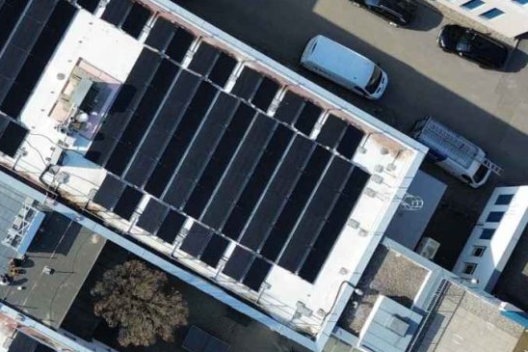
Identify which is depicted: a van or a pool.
van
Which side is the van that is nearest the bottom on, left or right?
right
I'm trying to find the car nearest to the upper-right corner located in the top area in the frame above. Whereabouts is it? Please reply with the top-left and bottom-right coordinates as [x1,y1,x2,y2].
[434,24,513,70]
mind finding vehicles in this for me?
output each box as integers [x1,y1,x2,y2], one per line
[434,24,513,70]
[345,0,419,29]
[408,120,509,190]
[298,35,386,98]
